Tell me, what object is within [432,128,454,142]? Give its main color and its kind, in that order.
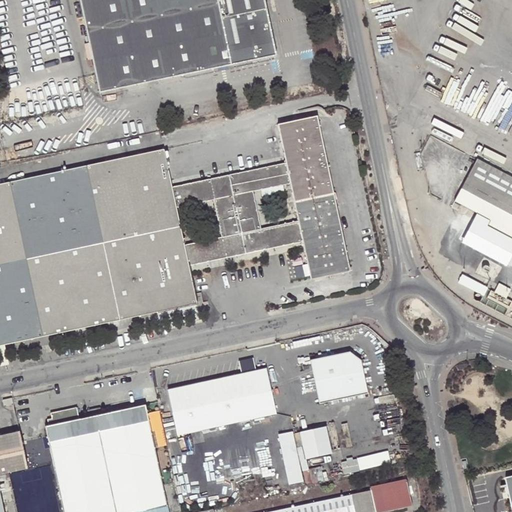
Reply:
white vehicle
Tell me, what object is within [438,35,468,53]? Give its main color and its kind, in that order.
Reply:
white vehicle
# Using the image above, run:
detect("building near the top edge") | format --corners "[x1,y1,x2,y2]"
[80,0,276,92]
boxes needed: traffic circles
[376,256,480,384]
